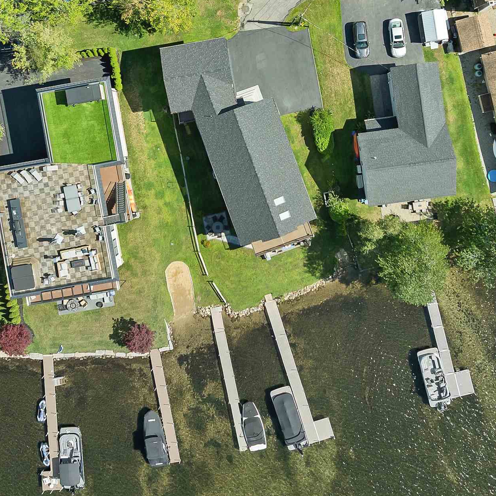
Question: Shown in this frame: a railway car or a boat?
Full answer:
Of the two, only a boat appears.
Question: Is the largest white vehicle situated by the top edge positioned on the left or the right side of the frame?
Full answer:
The largest white vehicle situated by the top edge appears in the right half of the scene.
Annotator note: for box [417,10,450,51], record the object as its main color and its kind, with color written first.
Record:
white vehicle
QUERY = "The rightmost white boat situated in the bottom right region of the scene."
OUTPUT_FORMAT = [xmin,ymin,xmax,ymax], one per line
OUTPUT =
[418,349,452,409]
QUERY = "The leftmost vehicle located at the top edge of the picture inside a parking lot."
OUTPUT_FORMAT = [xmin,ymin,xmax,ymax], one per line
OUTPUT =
[352,21,371,60]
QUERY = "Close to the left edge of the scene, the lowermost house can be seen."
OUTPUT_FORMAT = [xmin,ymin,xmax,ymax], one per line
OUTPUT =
[0,75,136,309]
